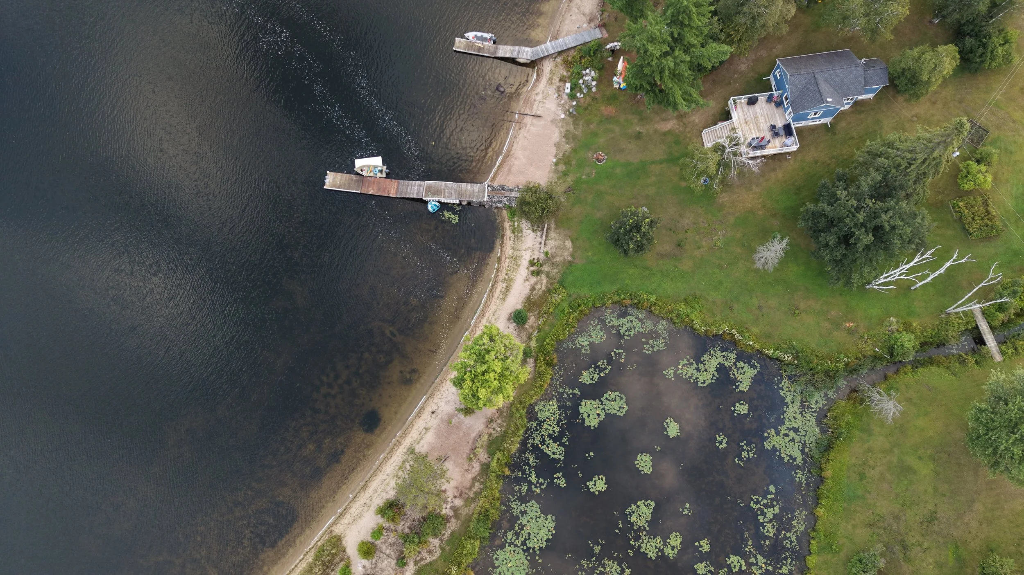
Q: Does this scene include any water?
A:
Yes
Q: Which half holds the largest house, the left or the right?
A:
right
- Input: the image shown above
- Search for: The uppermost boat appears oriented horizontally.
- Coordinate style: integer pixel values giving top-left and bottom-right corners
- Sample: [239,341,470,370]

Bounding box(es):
[465,31,497,43]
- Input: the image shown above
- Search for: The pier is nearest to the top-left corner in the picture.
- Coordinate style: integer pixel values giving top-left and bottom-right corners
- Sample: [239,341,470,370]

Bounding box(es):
[323,169,488,202]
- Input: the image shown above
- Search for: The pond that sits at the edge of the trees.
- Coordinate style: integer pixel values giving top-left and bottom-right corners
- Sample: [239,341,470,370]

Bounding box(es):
[478,311,1001,575]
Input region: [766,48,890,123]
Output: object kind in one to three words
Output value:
house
